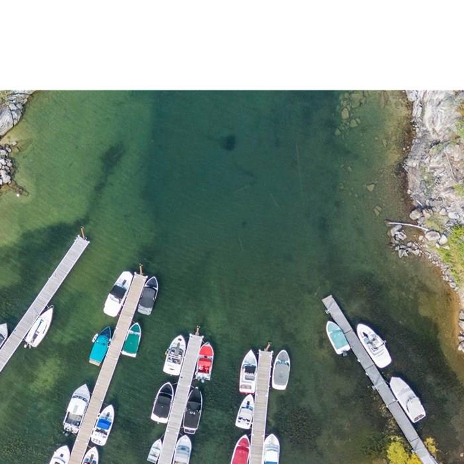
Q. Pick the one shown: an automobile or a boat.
boat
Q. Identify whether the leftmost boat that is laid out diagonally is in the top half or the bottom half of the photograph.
bottom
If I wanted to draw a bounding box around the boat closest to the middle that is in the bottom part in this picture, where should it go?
[136,276,158,317]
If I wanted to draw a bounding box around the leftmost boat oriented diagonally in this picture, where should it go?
[25,306,54,350]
